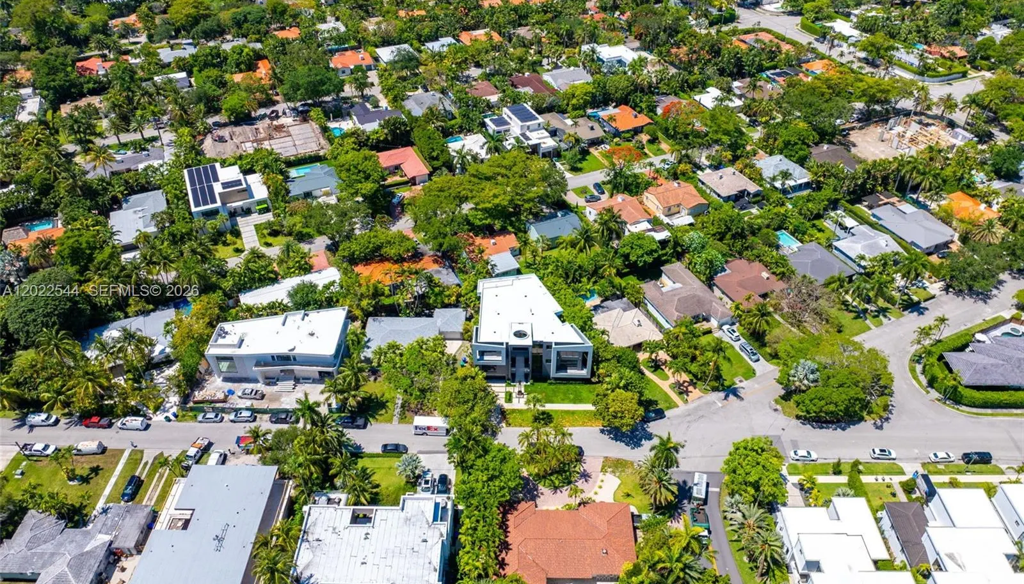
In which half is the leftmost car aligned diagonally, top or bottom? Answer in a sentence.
You can find the leftmost car aligned diagonally in the bottom half.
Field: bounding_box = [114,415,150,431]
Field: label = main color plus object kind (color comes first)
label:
white vehicle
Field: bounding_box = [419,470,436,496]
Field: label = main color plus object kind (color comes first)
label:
white car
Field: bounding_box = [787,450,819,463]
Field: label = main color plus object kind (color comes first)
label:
white vehicle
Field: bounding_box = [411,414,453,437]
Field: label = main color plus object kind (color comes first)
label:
white truck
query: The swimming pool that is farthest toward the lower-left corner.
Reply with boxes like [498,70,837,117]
[169,295,199,319]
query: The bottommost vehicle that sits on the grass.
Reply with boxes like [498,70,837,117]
[115,476,148,503]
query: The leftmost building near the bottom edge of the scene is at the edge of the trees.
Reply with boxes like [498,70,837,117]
[0,505,154,584]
